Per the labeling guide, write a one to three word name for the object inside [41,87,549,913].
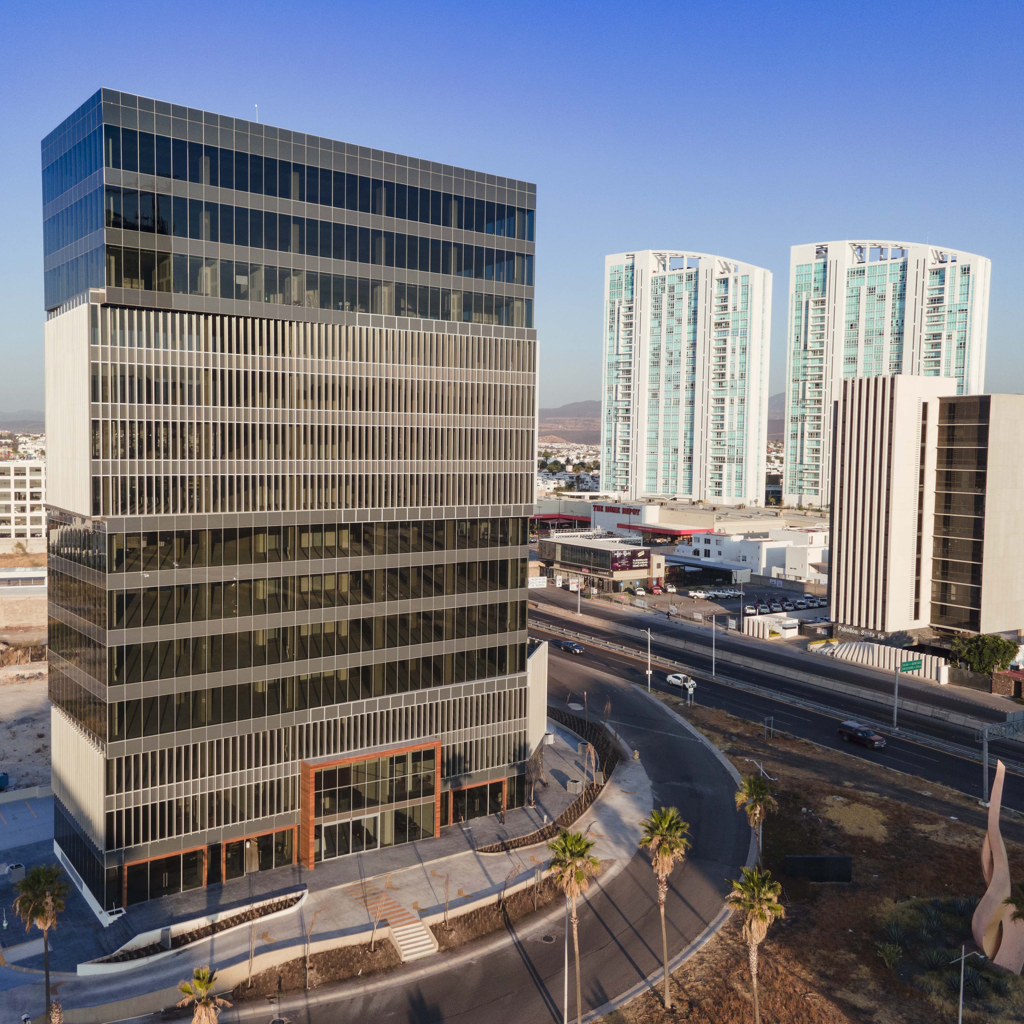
building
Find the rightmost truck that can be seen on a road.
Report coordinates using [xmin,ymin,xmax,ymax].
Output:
[835,719,889,749]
